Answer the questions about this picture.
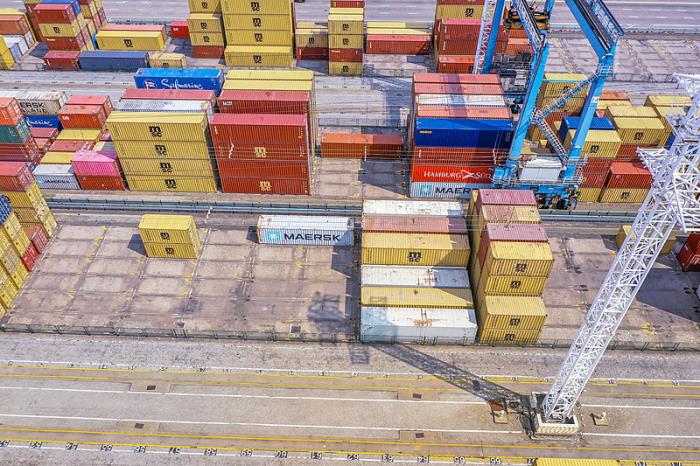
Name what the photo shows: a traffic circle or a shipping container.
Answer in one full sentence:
I can see a shipping container in this picture.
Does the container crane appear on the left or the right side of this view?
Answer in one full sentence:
The container crane sits on the right side.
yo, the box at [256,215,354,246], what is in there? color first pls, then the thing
white shipping container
